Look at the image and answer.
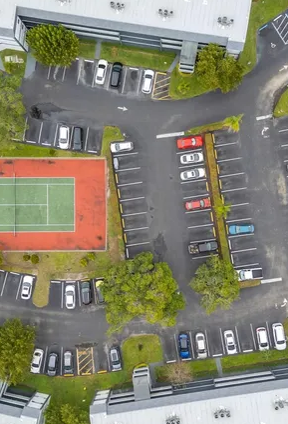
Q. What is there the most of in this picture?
paved ground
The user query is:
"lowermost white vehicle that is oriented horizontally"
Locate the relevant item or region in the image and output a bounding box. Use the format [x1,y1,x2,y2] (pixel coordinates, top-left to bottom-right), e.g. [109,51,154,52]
[236,268,264,281]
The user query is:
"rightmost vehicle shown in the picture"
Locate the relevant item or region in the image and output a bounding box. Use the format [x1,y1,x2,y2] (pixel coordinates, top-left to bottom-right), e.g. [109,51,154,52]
[272,324,286,348]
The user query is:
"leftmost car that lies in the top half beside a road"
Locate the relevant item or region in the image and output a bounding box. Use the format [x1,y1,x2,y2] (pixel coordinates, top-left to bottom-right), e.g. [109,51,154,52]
[57,125,70,149]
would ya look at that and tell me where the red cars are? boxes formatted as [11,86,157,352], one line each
[187,198,211,209]
[177,136,202,148]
